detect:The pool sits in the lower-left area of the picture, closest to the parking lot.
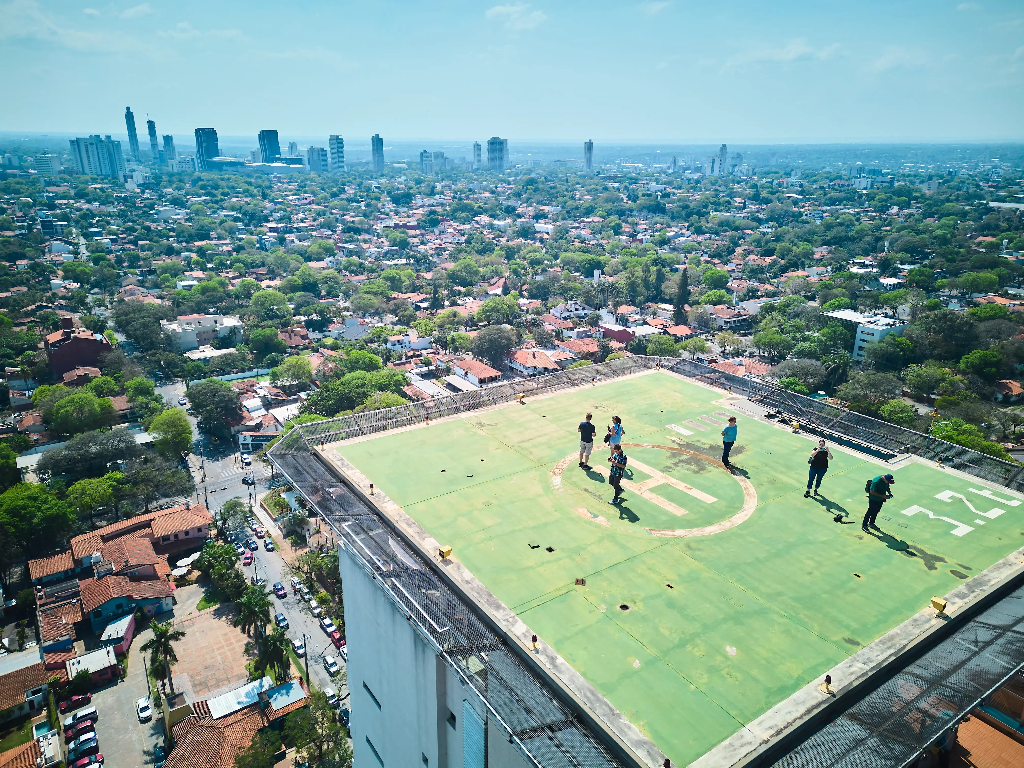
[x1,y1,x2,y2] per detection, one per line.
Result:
[34,719,53,733]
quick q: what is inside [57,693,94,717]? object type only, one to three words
car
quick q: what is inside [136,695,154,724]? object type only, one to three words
car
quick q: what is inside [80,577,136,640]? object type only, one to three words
house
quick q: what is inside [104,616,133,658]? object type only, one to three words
house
